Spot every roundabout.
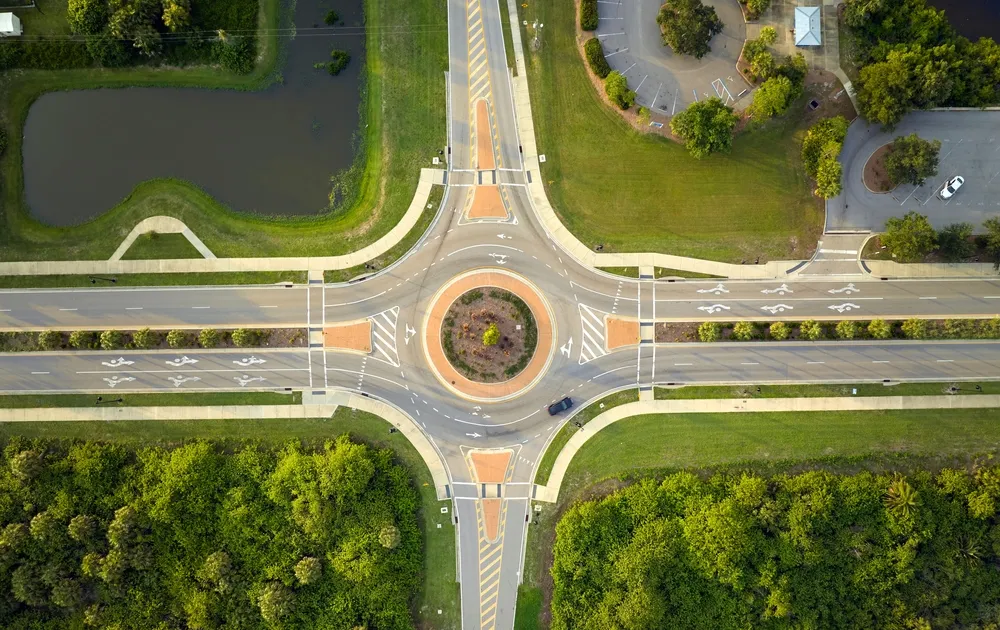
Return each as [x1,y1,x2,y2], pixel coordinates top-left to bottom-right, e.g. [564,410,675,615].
[308,168,655,499]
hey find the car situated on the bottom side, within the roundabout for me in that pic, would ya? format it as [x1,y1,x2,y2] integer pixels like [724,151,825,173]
[548,397,573,416]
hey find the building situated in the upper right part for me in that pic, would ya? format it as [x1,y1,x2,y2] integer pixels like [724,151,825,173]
[792,7,821,49]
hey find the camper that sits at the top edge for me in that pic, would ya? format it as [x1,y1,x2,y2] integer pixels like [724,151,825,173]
[0,14,27,34]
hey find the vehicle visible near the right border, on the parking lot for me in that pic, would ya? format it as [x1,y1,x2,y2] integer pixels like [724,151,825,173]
[938,174,966,200]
